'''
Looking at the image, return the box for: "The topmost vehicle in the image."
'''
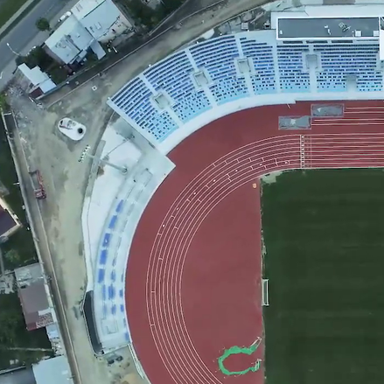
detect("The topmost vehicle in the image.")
[55,7,73,24]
